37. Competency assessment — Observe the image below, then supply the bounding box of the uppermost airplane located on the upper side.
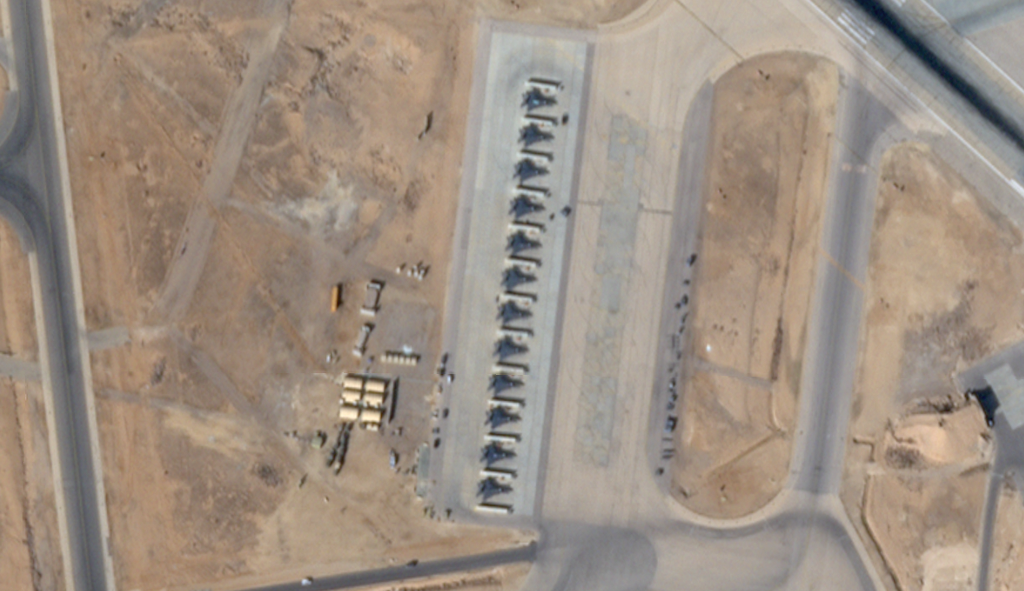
[521,89,555,113]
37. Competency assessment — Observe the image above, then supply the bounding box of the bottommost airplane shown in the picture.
[476,477,511,500]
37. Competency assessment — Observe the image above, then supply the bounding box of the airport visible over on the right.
[424,0,1024,591]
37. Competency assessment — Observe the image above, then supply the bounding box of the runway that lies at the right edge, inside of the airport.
[804,0,1024,197]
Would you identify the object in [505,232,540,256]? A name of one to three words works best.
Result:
airplane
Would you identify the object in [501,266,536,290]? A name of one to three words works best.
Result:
airplane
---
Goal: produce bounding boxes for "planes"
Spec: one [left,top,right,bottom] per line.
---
[496,301,530,325]
[493,336,528,360]
[488,371,523,395]
[476,477,511,500]
[505,232,540,256]
[485,406,520,429]
[521,89,555,113]
[518,124,553,148]
[501,266,536,290]
[513,159,547,182]
[508,195,543,219]
[480,442,515,465]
